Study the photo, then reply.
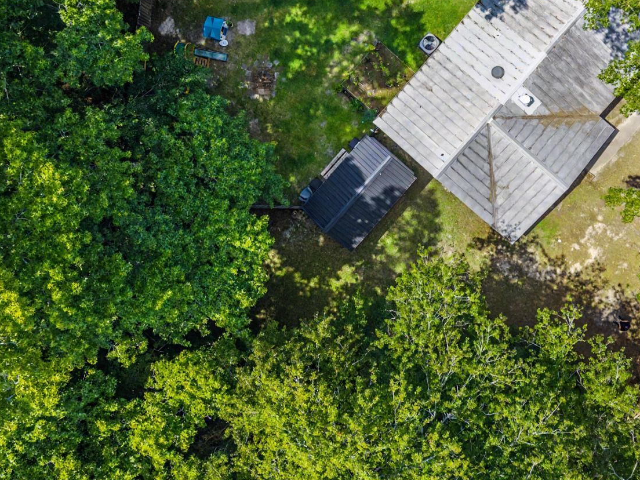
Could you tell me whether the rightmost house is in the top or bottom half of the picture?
top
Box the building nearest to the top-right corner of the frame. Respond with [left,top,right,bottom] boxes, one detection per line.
[374,0,640,247]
